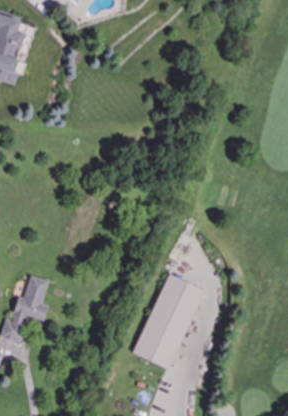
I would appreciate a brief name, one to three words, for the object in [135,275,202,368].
barn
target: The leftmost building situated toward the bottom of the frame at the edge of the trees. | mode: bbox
[0,274,52,348]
